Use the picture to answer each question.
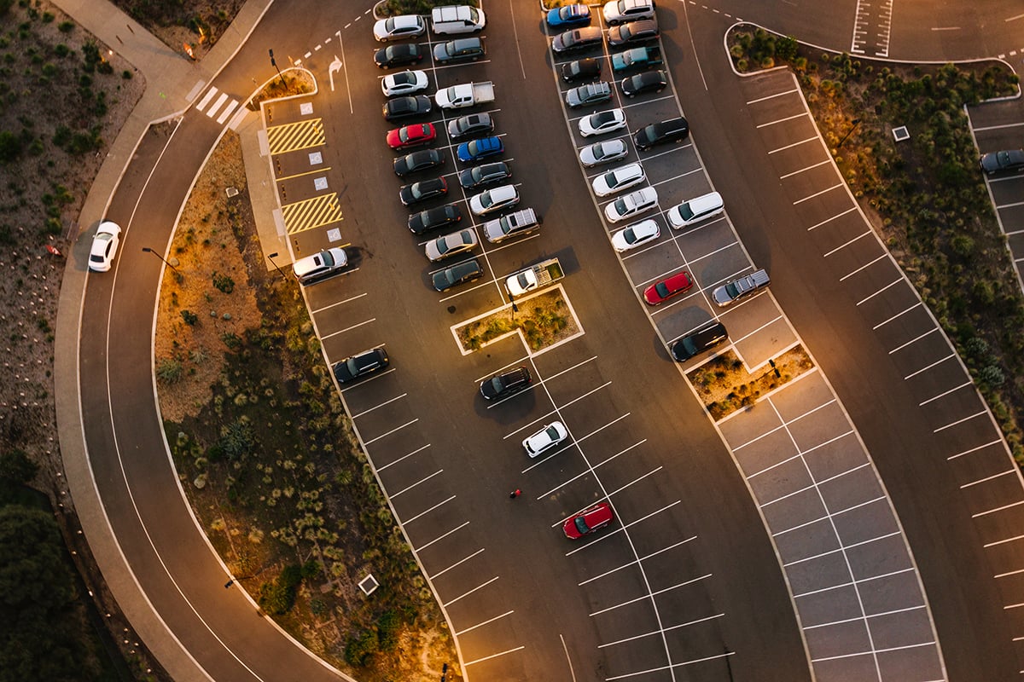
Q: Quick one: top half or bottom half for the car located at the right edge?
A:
top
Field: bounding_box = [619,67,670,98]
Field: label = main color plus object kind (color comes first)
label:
black car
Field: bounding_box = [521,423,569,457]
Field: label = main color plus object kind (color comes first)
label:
white car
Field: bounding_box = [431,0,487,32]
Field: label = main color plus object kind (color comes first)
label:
white van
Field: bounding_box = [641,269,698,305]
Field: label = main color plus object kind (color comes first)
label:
red car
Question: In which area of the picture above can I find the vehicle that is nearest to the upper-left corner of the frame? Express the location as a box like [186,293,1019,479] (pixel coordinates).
[88,221,123,273]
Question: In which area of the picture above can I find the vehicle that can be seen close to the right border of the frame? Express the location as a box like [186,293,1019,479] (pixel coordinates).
[978,147,1024,174]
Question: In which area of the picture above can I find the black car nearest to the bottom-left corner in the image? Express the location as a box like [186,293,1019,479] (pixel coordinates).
[333,346,392,382]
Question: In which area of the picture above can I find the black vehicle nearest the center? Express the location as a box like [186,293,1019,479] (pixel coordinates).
[477,364,535,401]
